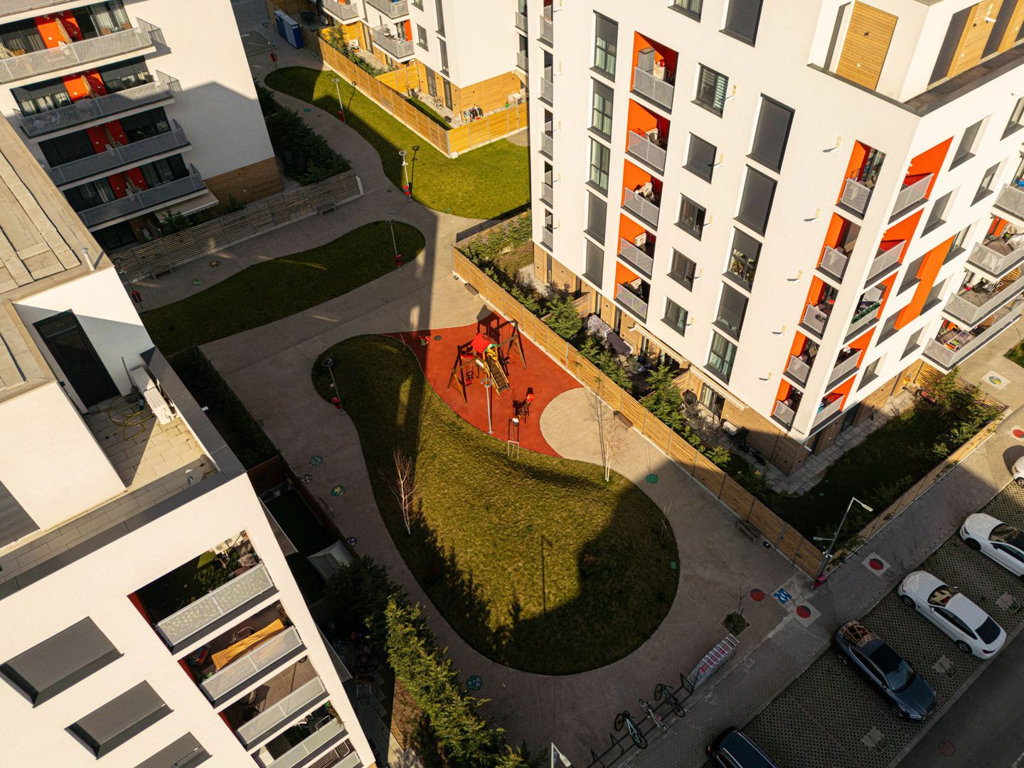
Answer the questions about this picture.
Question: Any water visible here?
No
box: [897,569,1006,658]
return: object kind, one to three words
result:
car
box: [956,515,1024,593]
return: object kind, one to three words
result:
car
